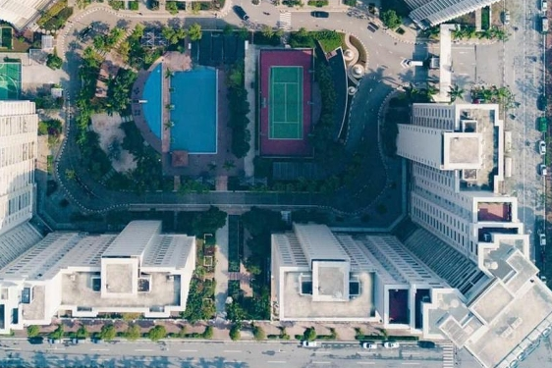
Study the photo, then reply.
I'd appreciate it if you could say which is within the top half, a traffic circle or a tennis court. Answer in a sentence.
What appears within the top half is a tennis court.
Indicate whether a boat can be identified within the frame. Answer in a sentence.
No, I can see no boat in this picture.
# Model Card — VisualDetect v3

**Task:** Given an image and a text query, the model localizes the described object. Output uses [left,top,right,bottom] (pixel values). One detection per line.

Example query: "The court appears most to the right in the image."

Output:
[259,47,317,159]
